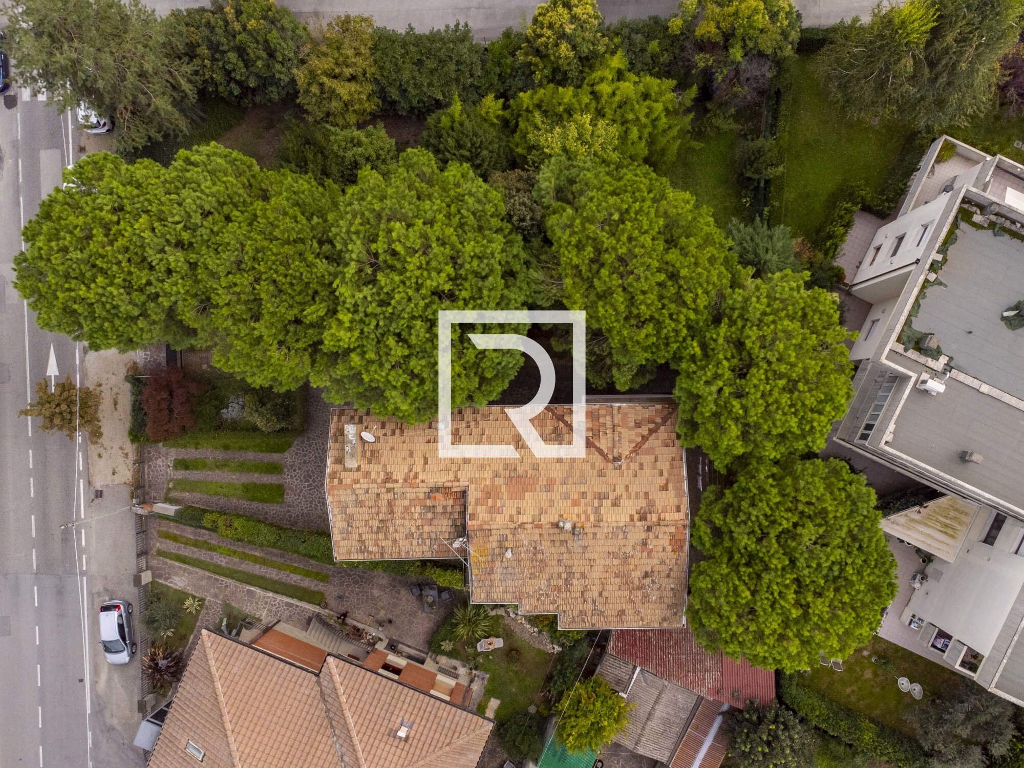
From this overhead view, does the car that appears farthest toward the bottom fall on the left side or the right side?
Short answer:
left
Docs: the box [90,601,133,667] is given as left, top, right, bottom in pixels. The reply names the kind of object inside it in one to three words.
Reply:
car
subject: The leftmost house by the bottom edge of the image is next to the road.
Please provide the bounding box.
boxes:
[146,611,501,768]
